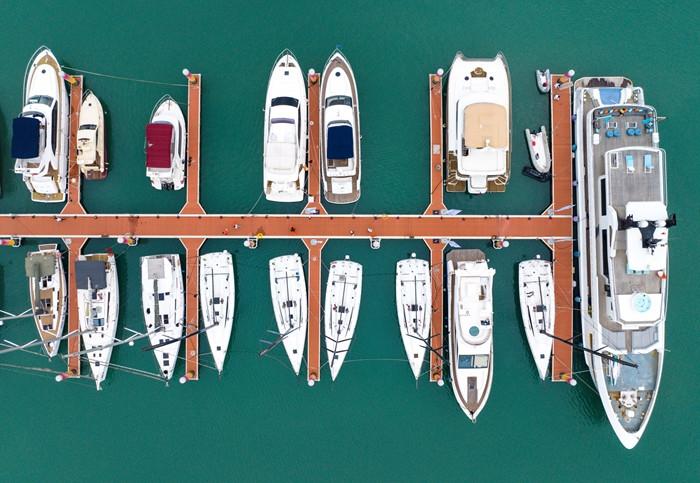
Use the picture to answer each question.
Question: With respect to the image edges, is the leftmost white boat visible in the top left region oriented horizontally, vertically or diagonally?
vertically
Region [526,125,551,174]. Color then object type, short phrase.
white boat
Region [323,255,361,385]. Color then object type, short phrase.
white boat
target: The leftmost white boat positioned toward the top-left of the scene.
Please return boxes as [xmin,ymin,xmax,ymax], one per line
[11,46,70,202]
